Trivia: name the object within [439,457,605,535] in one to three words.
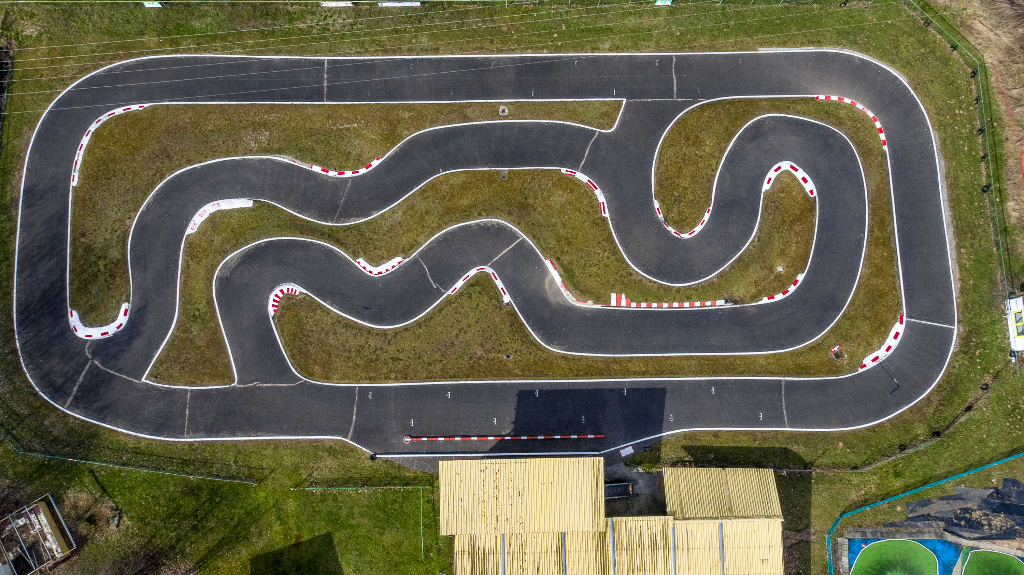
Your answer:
building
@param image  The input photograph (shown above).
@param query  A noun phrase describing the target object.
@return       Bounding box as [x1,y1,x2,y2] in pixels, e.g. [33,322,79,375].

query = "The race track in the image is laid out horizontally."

[13,49,957,474]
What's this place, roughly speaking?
sports ground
